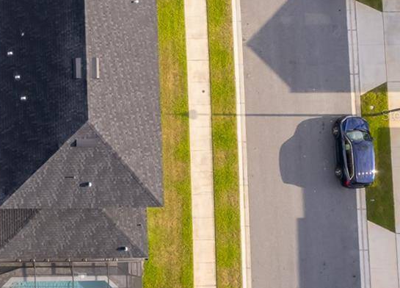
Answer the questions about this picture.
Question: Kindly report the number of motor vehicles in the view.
1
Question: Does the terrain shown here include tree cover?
No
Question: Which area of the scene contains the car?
right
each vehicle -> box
[336,117,377,187]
